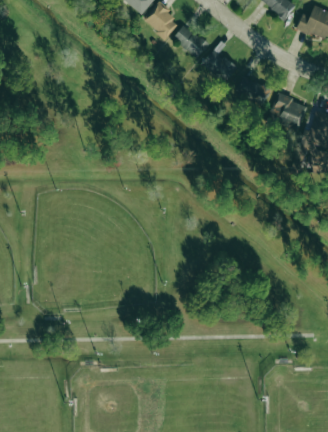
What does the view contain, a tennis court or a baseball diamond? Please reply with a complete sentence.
There is a baseball diamond in the scene.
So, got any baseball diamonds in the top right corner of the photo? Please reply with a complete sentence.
No, I see no baseball diamond in the top right corner of the photo.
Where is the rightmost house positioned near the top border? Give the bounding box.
[297,5,328,44]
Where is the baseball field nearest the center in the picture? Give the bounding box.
[34,189,156,314]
